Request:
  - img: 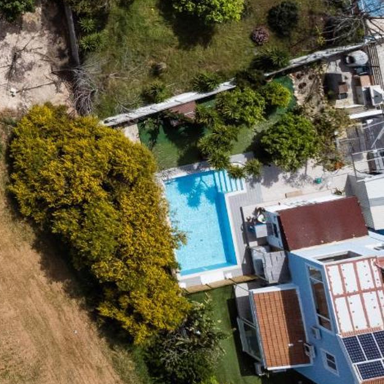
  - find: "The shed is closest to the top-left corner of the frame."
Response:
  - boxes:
[160,100,196,126]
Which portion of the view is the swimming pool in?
center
